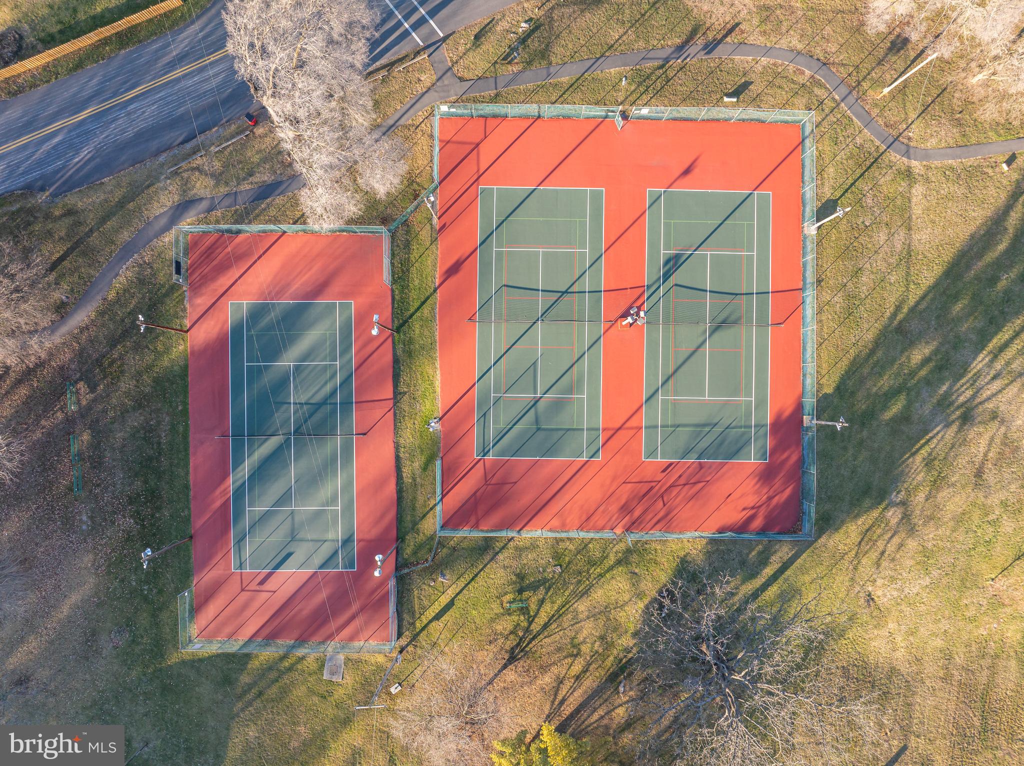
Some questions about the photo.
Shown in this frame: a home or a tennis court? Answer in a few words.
tennis court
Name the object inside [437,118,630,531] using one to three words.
tennis court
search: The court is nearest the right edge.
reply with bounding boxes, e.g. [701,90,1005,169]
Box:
[618,120,802,531]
